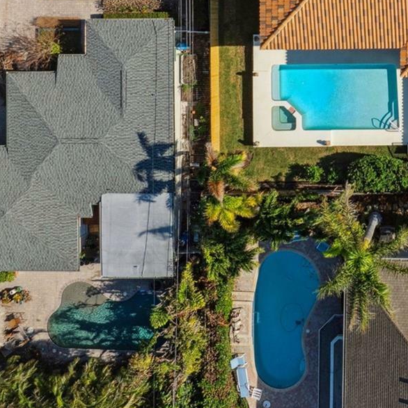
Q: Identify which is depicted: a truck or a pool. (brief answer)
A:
pool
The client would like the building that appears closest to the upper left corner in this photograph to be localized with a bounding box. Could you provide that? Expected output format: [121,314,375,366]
[0,17,186,277]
